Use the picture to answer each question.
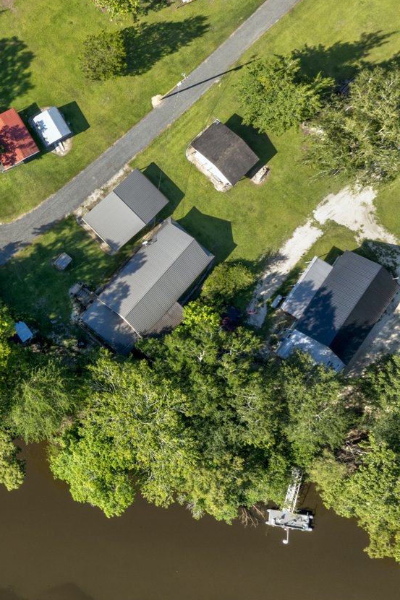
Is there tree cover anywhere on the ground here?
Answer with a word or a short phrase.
Yes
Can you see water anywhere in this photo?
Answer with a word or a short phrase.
Yes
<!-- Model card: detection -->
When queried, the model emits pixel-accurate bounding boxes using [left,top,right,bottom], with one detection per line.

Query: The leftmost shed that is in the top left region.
[0,107,38,171]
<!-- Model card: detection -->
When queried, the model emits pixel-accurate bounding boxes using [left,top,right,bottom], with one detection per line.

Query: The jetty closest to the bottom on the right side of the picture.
[263,509,314,542]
